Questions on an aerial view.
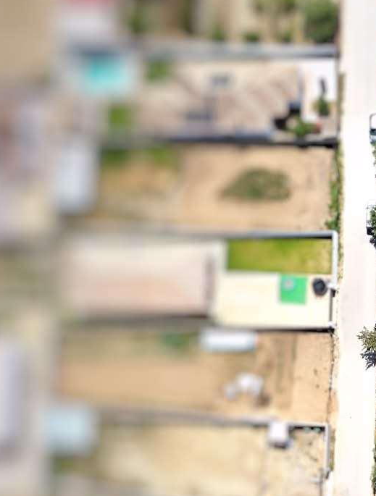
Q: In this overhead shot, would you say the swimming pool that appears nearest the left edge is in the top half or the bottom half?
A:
top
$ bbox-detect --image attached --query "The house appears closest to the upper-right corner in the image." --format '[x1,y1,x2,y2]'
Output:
[171,63,301,137]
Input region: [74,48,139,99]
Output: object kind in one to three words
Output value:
swimming pool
